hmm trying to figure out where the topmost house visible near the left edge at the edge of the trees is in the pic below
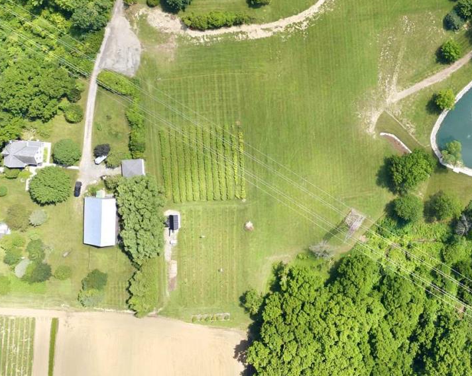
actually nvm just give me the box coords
[1,140,47,168]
